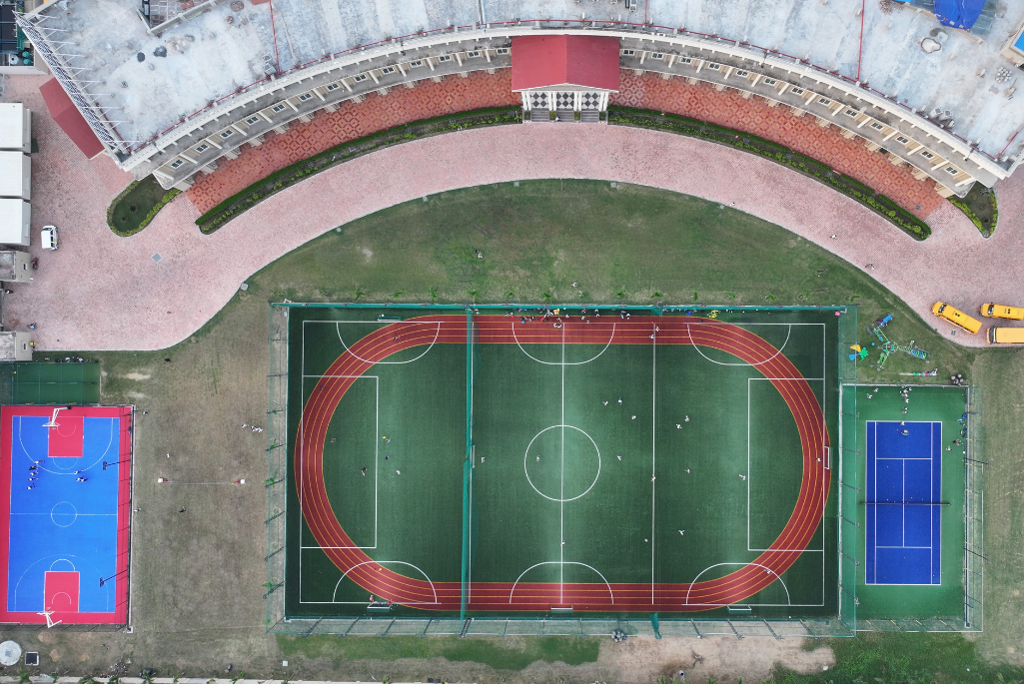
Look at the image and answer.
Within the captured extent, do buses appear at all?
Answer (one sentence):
Yes, a bus can be made out from above.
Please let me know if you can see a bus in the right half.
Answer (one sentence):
Yes, there is a bus in the right half.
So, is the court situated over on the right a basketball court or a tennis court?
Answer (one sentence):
It turns out the court situated over on the right is a tennis court.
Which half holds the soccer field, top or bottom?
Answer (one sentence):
The soccer field is in the bottom half of the image.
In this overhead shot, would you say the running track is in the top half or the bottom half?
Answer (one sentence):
The running track sits in the bottom half of the picture.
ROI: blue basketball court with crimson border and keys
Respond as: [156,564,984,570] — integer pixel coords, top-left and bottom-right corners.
[0,405,131,624]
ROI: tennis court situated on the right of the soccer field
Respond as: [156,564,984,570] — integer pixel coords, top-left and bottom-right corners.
[843,387,966,620]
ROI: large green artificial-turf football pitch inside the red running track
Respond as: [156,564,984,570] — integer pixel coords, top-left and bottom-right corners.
[285,309,840,619]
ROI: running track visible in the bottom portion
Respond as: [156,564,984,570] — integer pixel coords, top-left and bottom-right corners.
[294,315,831,612]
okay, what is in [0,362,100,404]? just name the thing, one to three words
sports court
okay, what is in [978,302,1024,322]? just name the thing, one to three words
bus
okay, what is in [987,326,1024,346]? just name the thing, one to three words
bus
